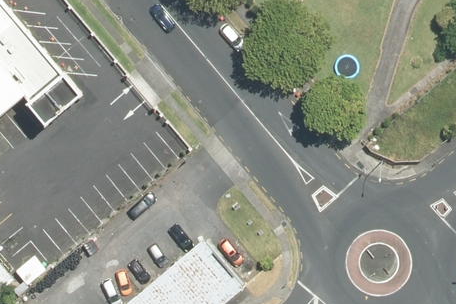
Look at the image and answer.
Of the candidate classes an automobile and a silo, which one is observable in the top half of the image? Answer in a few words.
automobile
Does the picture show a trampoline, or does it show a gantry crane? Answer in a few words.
trampoline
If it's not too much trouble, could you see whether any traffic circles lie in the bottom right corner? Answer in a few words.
Yes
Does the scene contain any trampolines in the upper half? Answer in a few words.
Yes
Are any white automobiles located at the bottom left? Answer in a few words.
Yes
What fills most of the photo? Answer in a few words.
paved ground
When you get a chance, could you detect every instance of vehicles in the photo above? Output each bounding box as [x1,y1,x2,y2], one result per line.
[128,258,151,284]
[102,279,122,304]
[218,238,244,267]
[219,22,244,52]
[116,268,133,296]
[168,224,194,252]
[147,242,170,268]
[127,192,156,220]
[149,3,176,34]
